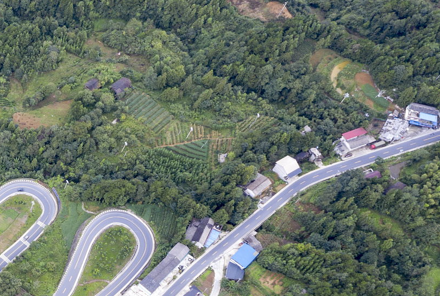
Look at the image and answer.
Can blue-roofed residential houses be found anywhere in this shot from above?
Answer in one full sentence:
Yes, the photo shows a blue-roofed residential house.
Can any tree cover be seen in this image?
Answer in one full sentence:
Yes, tree cover shows up in the scene.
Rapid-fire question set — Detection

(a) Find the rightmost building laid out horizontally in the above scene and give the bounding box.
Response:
[402,111,438,133]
